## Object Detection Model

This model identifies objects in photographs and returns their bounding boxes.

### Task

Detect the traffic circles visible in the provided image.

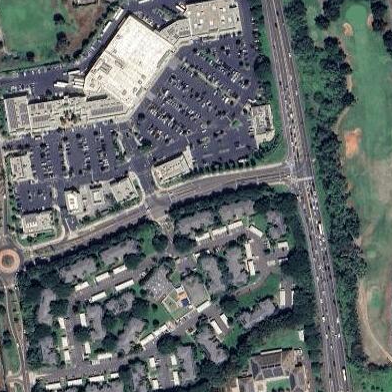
[0,240,28,282]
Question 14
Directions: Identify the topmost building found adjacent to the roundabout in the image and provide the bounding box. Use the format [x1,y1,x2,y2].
[22,211,53,238]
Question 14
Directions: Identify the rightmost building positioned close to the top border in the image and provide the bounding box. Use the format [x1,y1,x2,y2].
[184,0,240,41]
